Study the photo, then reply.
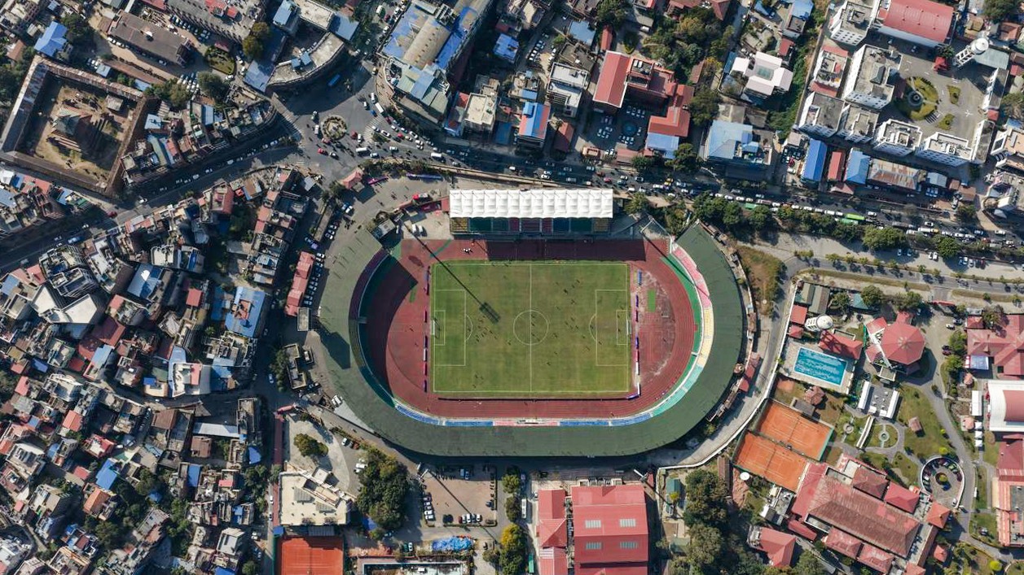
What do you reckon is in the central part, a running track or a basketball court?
running track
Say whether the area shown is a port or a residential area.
residential area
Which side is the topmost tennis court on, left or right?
right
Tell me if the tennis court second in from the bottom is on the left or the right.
right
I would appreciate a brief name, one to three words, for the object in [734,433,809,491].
tennis court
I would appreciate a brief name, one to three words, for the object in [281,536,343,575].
tennis court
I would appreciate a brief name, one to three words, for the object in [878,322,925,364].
building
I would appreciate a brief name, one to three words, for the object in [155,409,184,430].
house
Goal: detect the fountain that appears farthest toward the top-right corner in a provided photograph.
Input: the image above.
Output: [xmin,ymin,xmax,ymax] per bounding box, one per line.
[908,88,926,105]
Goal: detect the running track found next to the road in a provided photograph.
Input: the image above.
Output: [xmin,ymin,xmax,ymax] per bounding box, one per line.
[361,238,700,419]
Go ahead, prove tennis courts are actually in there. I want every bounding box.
[281,536,343,575]
[759,401,837,461]
[734,433,809,491]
